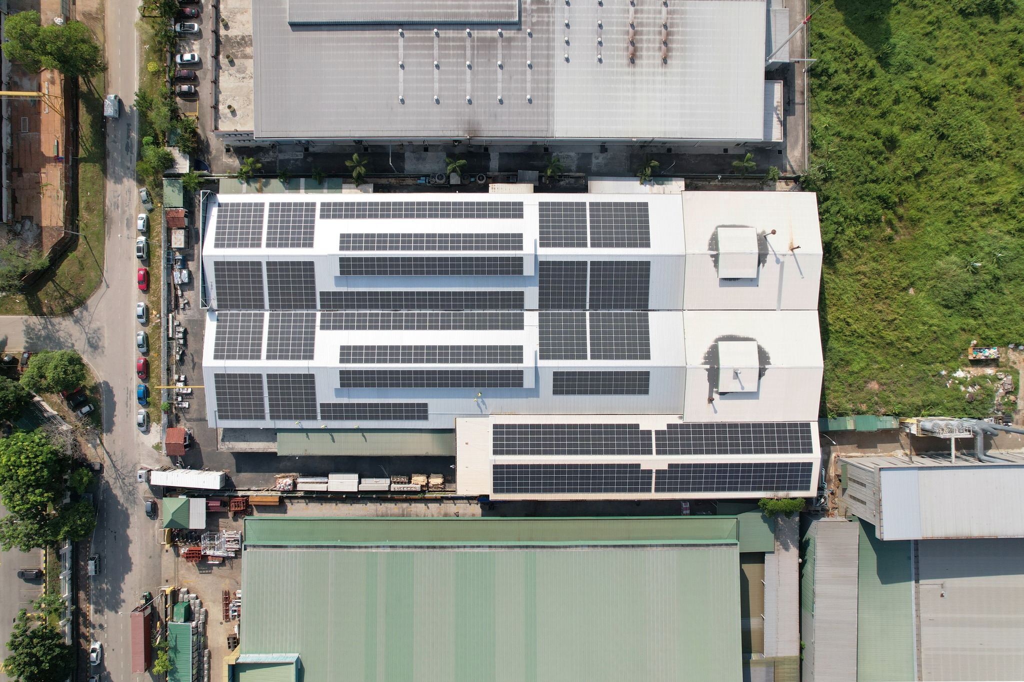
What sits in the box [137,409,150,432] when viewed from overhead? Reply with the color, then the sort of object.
gray vehicle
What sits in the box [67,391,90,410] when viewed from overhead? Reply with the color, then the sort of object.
black car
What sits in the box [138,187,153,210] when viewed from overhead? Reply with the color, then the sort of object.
gray car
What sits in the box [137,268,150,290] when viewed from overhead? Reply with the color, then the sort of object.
red vehicle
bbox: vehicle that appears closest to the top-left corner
[102,95,121,118]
